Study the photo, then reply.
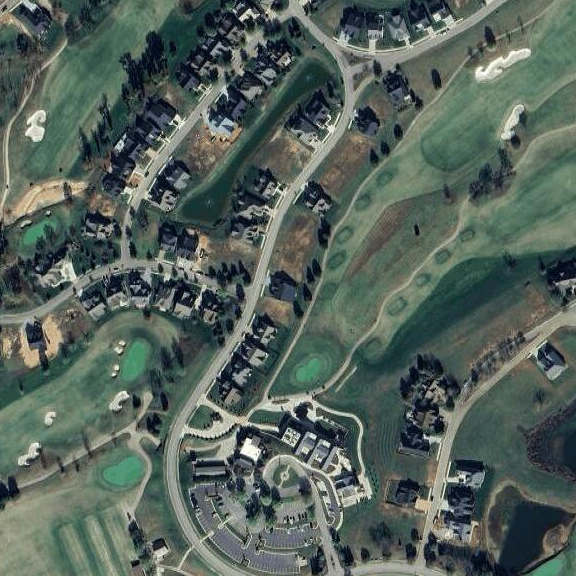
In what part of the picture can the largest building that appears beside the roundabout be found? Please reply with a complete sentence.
The largest building that appears beside the roundabout is in the bottom part of the image.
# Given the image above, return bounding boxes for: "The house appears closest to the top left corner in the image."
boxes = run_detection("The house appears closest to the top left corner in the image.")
[22,3,48,33]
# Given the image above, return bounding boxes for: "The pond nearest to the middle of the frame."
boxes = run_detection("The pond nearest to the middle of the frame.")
[180,57,331,225]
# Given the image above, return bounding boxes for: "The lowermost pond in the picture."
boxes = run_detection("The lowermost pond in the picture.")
[501,500,575,576]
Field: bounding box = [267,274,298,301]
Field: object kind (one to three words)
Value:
house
